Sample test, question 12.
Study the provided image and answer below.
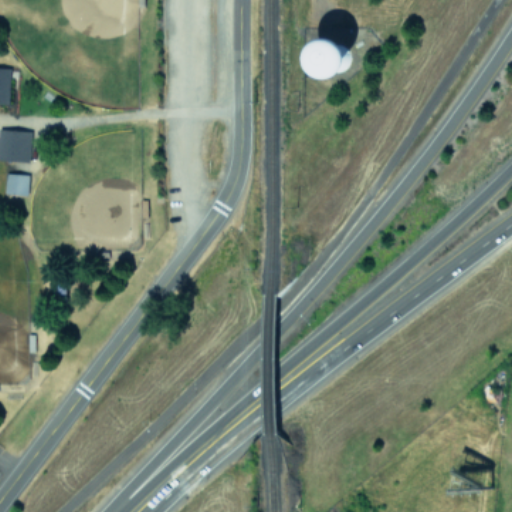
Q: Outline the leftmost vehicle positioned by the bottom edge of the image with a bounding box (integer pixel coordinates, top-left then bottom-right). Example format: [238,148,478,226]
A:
[144,480,179,508]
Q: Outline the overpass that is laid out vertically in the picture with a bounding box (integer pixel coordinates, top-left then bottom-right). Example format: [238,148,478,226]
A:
[248,276,302,445]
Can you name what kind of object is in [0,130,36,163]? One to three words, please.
house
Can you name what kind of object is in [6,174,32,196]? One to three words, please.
shed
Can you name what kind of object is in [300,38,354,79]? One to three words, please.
water tower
